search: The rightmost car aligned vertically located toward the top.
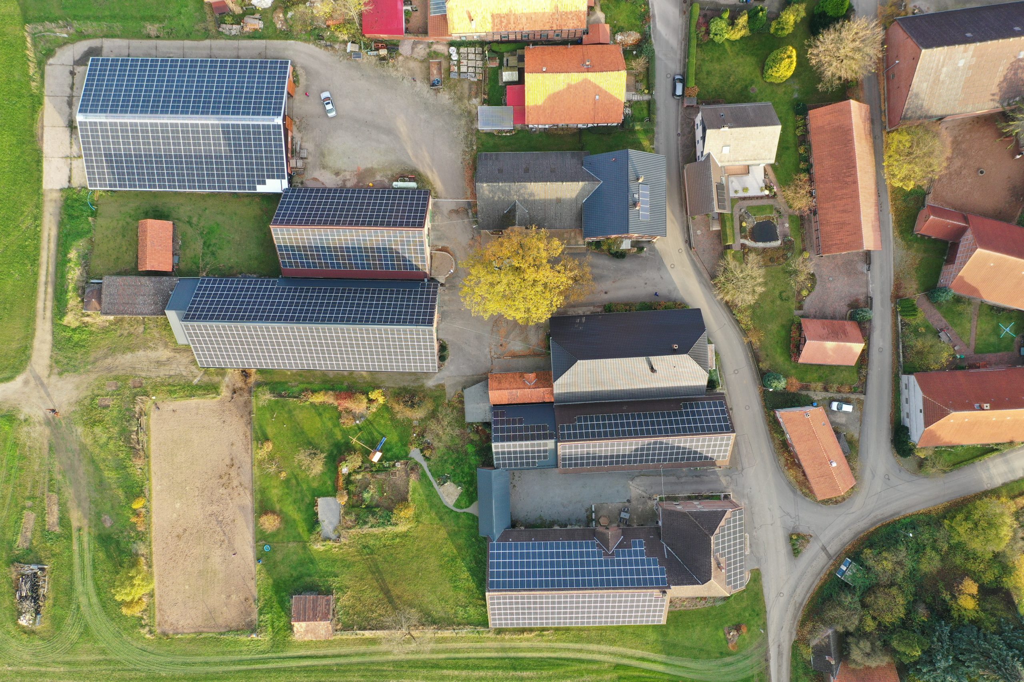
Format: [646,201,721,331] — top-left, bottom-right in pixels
[673,72,686,98]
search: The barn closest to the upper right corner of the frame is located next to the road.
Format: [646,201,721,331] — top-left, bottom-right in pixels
[882,0,1024,126]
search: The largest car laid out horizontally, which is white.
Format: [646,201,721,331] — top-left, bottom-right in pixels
[831,401,857,413]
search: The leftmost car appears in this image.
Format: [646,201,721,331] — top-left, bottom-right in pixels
[320,89,336,117]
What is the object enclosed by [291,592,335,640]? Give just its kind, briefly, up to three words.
shed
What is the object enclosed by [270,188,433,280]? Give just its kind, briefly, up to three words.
barn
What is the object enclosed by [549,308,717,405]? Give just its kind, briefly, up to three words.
house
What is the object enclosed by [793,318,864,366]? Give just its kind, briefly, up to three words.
building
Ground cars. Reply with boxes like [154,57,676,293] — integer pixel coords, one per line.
[673,72,686,98]
[320,89,336,117]
[831,401,857,413]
